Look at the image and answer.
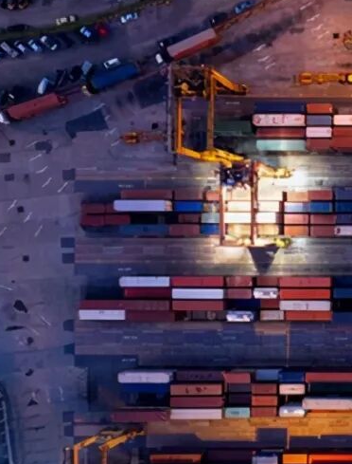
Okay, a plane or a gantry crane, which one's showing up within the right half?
gantry crane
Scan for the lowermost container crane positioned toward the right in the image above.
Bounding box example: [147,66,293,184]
[218,153,291,251]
